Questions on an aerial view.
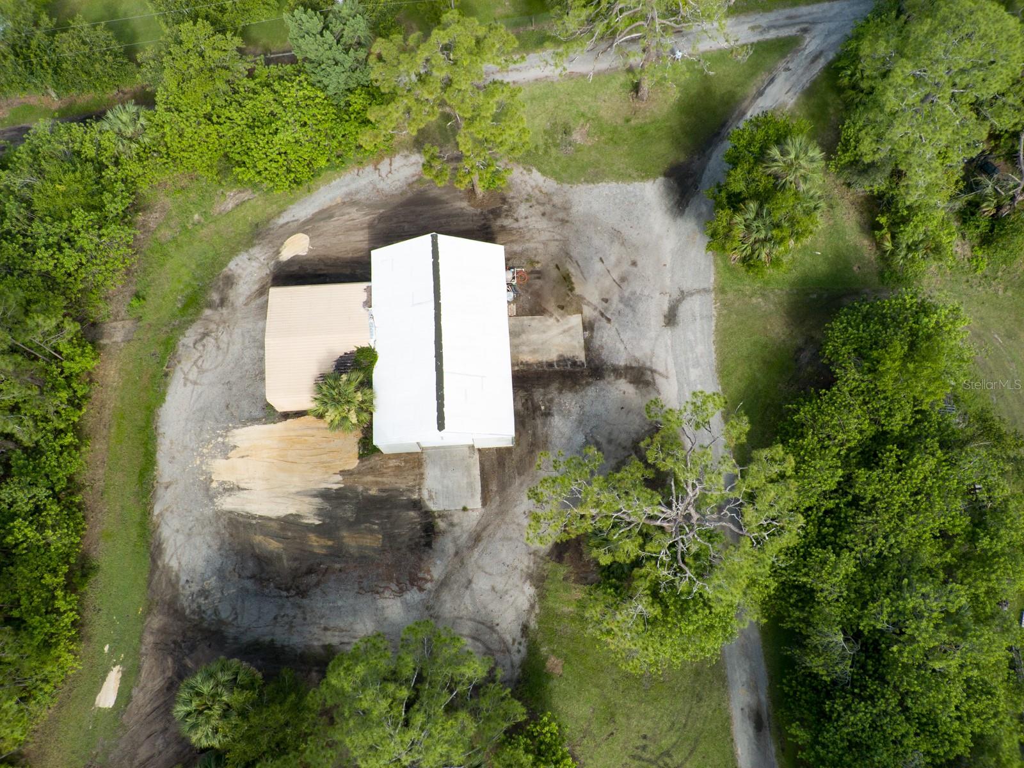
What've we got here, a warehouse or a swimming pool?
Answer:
warehouse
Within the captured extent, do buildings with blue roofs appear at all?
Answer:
No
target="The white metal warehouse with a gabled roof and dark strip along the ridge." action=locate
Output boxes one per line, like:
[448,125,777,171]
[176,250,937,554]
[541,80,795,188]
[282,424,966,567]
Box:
[372,236,514,450]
